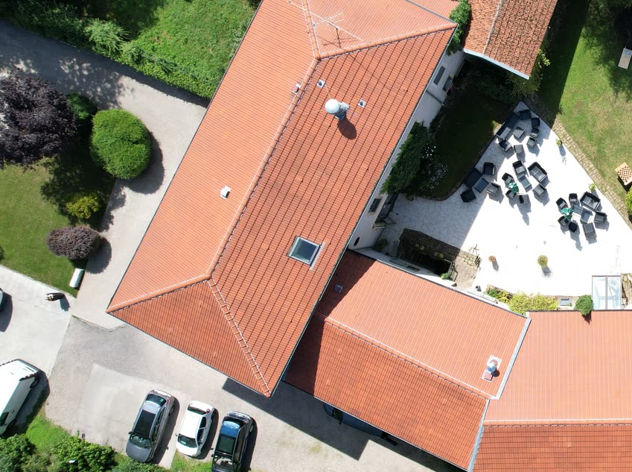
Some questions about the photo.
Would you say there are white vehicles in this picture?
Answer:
Yes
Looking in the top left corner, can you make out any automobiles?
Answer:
No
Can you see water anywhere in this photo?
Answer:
No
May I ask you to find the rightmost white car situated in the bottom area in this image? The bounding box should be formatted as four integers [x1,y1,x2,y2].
[172,396,218,459]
